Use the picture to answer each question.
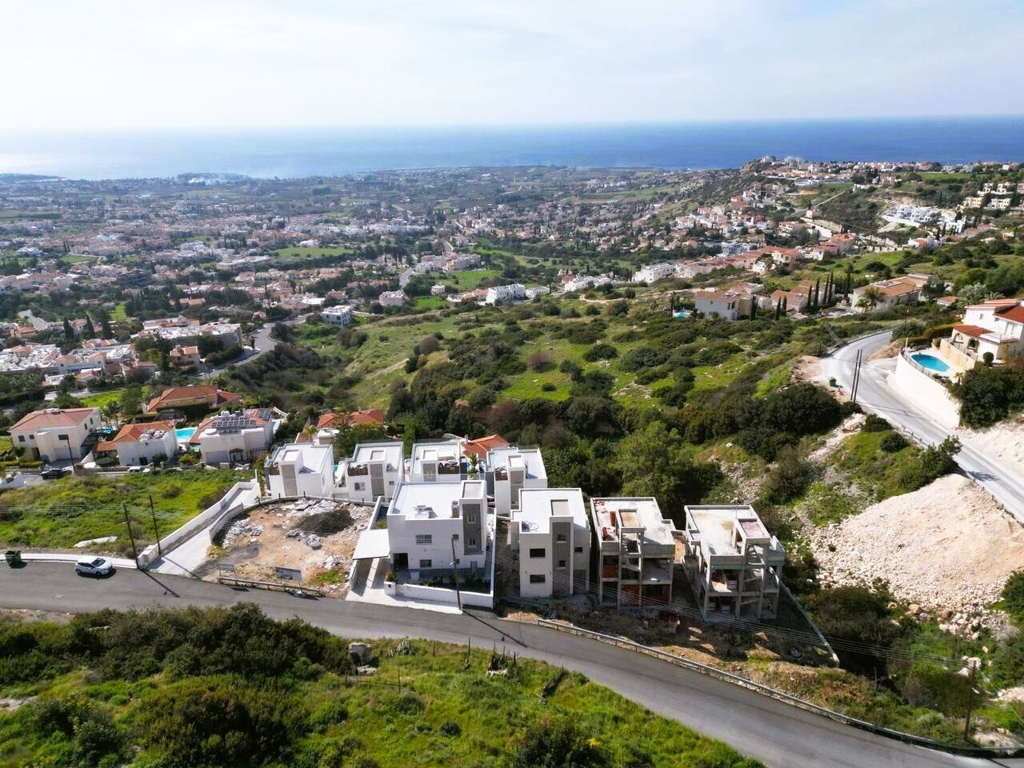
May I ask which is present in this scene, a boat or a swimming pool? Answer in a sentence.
The one in the frame is a swimming pool.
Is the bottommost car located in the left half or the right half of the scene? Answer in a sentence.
The bottommost car appears in the left half of the scene.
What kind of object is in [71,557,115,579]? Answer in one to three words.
car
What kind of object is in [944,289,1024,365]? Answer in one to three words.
house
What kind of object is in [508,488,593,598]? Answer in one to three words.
house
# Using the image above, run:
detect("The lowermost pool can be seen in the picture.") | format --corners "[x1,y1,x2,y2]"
[375,497,394,520]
